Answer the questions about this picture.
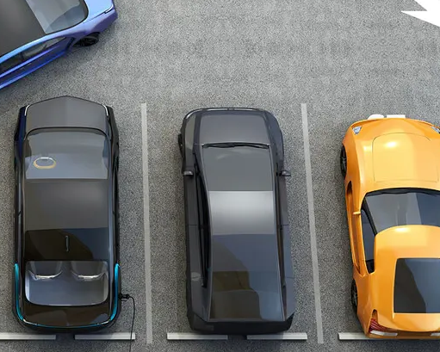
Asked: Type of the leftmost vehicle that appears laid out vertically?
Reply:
car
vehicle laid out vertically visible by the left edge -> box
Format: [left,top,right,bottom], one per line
[14,95,118,333]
